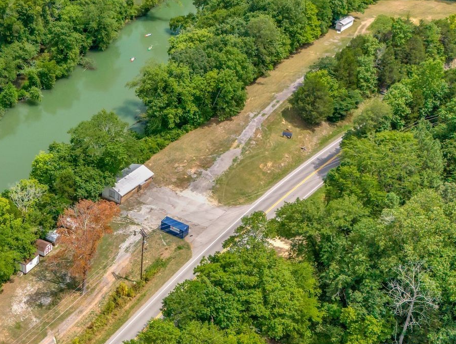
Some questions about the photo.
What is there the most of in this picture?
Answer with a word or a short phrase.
trees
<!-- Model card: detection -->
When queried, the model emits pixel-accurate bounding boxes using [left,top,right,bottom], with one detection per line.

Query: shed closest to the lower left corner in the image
[13,248,40,273]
